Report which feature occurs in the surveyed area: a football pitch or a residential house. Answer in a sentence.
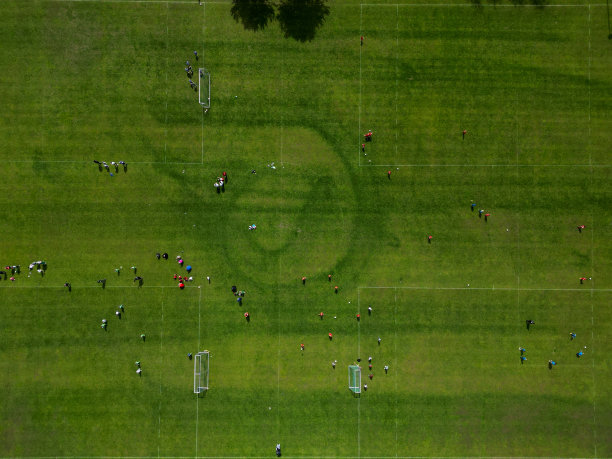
This aerial view contains a football pitch.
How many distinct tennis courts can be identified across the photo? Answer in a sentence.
The photo contains no tennis courts.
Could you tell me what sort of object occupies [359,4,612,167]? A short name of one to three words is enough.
soccer field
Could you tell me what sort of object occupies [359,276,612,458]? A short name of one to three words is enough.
soccer field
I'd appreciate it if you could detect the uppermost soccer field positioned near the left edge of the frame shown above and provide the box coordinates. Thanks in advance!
[0,0,205,164]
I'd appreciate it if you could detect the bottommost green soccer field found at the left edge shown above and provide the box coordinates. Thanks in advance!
[0,286,200,458]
